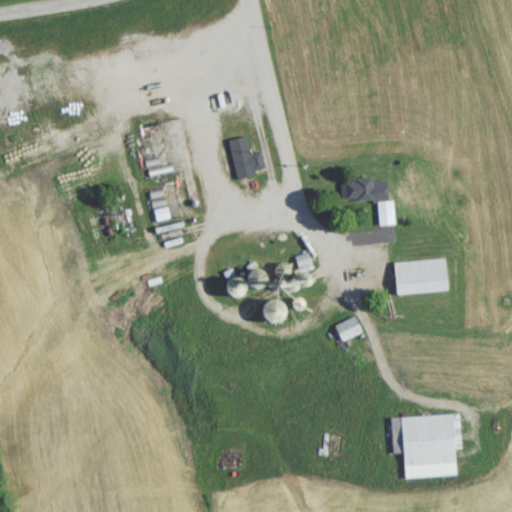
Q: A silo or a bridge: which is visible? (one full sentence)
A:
Looking from above, you can make out a silo.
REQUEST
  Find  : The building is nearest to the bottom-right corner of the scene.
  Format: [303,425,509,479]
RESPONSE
[392,414,464,480]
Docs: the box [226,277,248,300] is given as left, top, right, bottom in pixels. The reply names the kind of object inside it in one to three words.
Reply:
silo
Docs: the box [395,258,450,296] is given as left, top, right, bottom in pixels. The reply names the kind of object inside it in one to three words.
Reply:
barn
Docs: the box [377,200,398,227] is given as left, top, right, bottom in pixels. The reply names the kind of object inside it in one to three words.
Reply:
building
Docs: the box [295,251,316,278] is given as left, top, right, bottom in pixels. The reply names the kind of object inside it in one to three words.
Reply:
shed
